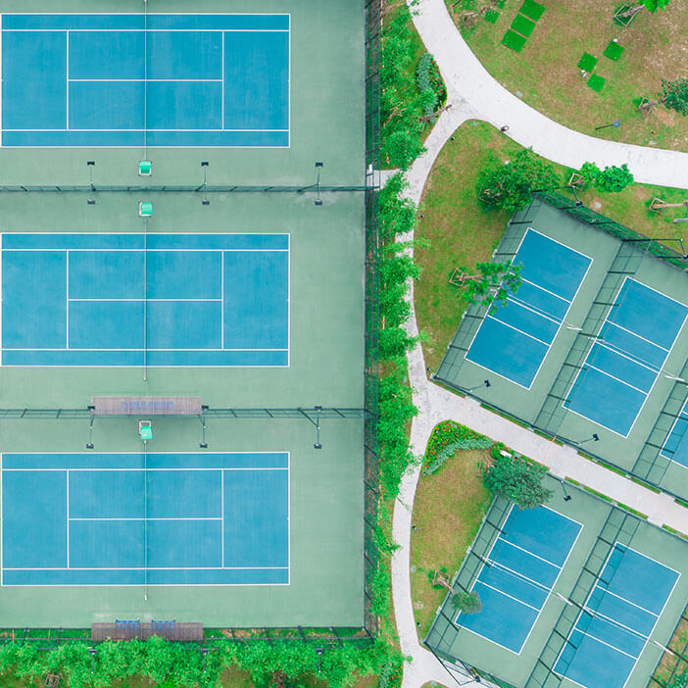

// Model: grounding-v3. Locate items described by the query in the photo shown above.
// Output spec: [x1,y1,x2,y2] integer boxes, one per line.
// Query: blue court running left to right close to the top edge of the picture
[0,11,291,148]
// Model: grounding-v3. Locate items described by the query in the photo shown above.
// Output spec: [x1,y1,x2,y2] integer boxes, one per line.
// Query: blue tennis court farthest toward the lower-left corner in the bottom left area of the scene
[0,453,291,587]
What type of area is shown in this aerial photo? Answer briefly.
sports ground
